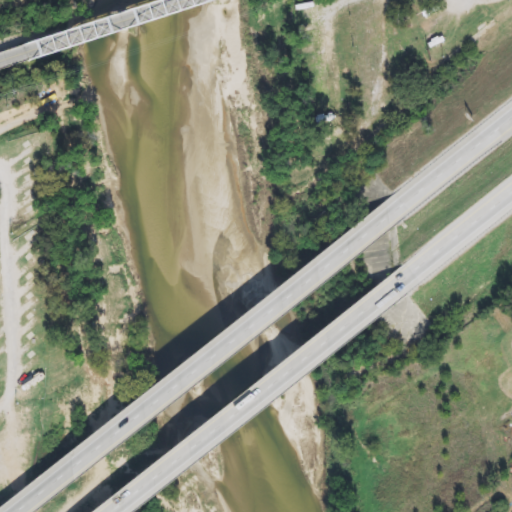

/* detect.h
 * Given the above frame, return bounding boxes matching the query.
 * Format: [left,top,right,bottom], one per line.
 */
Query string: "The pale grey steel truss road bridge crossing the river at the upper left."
[0,0,211,67]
